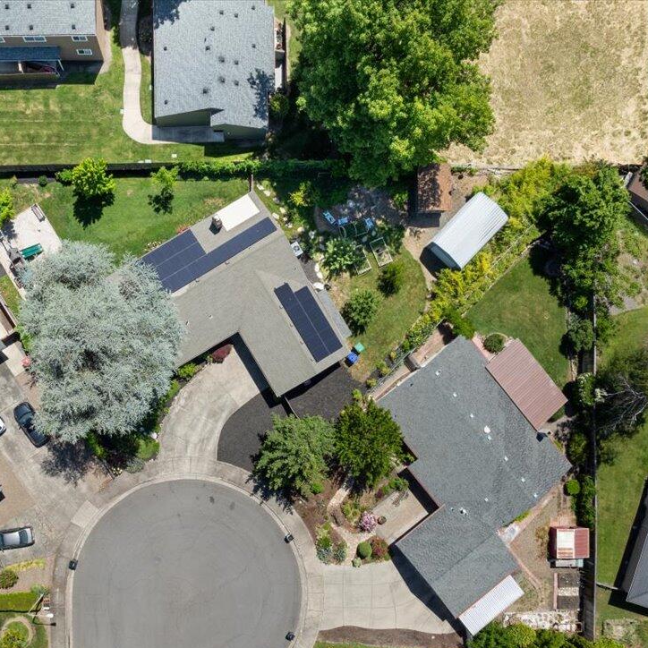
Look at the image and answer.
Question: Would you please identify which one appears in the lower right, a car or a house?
house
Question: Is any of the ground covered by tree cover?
Yes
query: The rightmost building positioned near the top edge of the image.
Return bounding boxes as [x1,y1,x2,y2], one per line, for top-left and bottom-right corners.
[153,0,276,147]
